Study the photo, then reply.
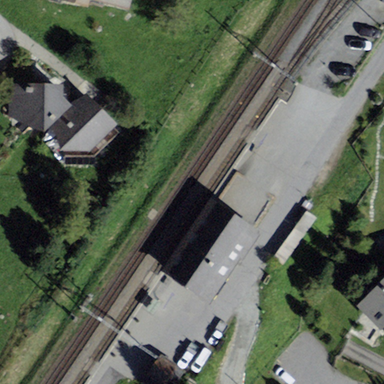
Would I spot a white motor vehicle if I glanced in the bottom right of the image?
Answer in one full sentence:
Yes, there is a white motor vehicle in the bottom right of the image.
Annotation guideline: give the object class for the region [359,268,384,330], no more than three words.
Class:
house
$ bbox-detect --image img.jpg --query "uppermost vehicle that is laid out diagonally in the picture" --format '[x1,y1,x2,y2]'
[208,322,228,344]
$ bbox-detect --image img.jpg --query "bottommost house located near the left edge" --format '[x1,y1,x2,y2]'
[9,82,120,165]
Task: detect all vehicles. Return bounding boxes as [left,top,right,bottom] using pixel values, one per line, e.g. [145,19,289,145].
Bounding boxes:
[274,365,300,384]
[192,346,213,372]
[178,341,200,368]
[358,24,382,38]
[208,322,228,344]
[333,64,356,76]
[349,38,372,48]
